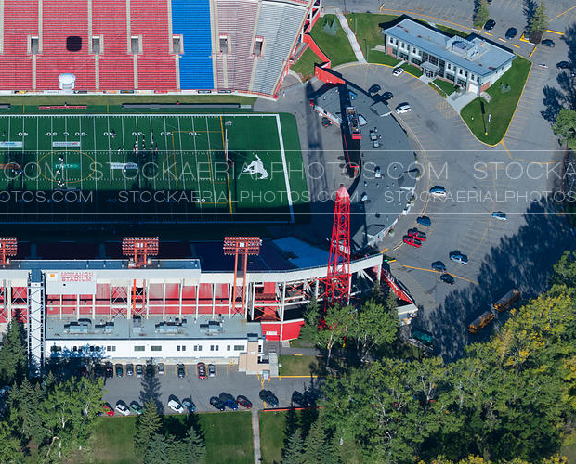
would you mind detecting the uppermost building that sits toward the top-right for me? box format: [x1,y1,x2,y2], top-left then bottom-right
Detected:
[379,3,522,96]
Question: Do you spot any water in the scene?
No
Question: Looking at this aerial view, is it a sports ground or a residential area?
sports ground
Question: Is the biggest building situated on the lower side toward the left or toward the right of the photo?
left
